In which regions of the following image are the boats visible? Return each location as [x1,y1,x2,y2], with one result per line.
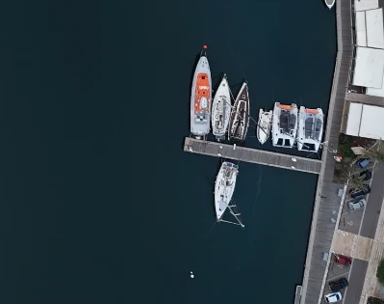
[211,75,248,140]
[255,108,272,144]
[214,160,249,224]
[230,82,265,141]
[190,51,214,139]
[297,106,336,154]
[272,102,308,147]
[323,0,335,15]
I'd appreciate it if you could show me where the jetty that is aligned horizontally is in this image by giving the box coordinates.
[183,137,322,173]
